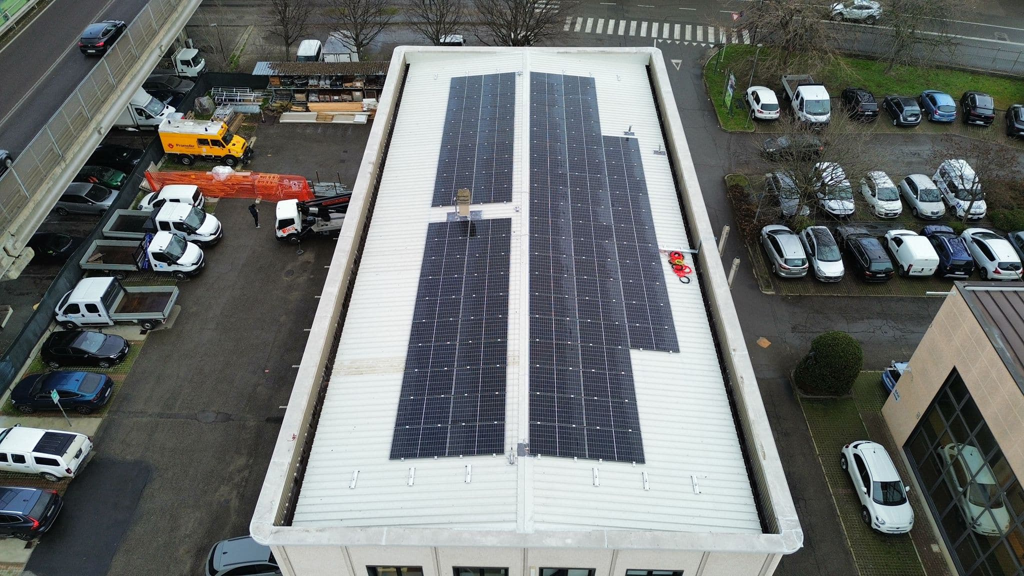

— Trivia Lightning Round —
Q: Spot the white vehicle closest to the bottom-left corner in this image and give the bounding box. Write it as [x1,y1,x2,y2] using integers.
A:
[0,424,95,479]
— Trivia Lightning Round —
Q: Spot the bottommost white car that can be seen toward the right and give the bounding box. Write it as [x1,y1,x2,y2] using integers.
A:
[841,445,913,541]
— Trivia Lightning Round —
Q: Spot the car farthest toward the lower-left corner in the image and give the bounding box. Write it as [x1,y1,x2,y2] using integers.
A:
[0,485,62,541]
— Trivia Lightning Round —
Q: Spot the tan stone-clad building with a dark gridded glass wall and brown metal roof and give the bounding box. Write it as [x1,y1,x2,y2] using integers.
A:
[885,283,1024,576]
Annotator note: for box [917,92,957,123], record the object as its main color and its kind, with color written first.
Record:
blue car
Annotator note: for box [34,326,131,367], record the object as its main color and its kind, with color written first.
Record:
black car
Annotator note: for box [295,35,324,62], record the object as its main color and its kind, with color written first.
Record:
white vehicle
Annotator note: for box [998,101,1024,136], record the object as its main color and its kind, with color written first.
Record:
black car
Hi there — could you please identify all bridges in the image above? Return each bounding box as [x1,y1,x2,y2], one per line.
[0,0,226,328]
